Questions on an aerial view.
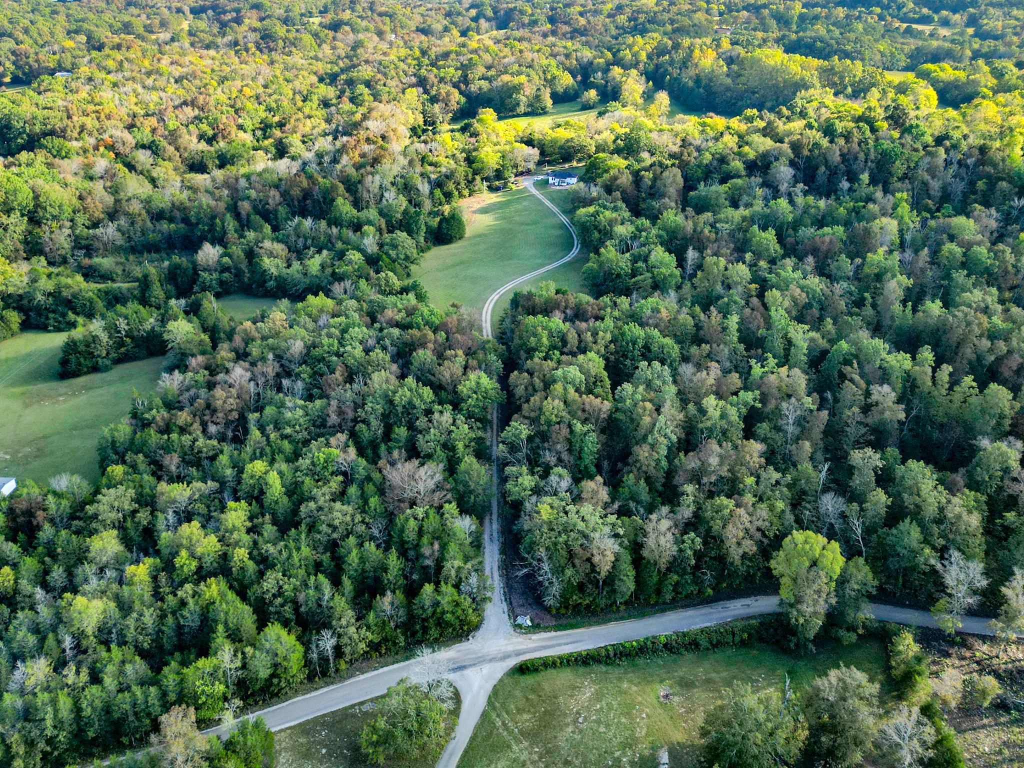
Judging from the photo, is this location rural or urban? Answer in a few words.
rural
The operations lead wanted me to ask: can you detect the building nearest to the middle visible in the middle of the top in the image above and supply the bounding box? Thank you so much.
[545,169,579,187]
